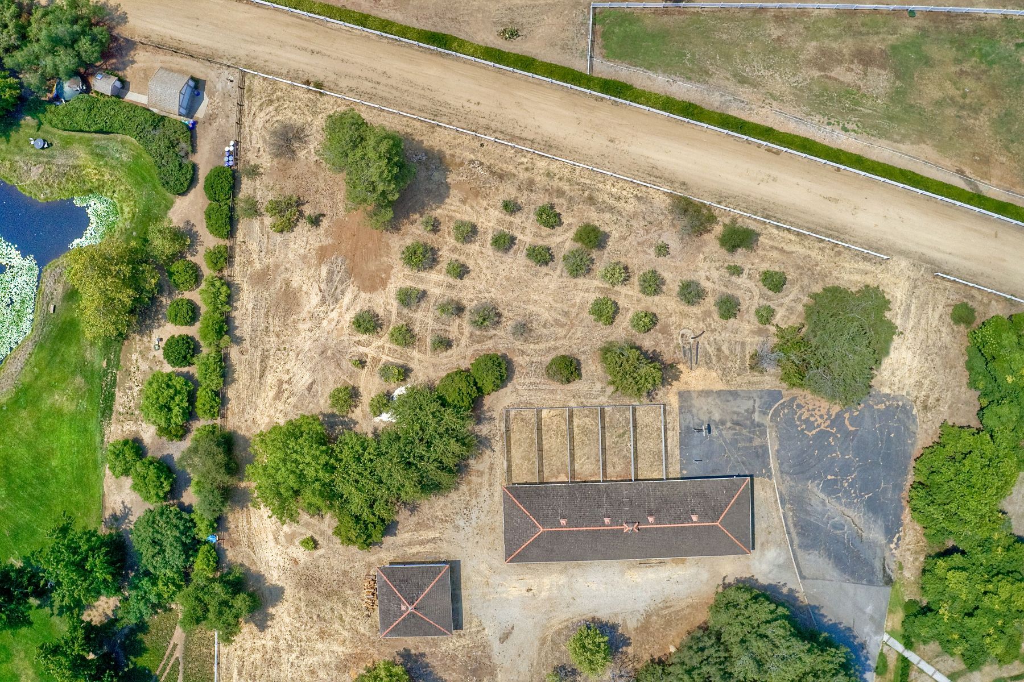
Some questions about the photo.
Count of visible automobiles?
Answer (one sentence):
The count of automobiles is 0.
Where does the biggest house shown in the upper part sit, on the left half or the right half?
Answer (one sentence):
The biggest house shown in the upper part is on the left side of the image.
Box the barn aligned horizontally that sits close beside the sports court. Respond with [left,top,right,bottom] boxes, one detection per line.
[502,476,753,564]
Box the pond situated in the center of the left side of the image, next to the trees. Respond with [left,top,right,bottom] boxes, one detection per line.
[0,181,115,366]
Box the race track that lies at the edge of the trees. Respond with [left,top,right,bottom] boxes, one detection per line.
[36,0,1024,303]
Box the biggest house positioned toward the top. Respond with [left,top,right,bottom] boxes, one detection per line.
[147,65,193,118]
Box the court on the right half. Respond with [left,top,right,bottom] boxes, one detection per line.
[679,390,783,479]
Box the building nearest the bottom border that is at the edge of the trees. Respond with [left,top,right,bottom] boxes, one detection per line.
[376,562,453,638]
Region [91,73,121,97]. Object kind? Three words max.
shed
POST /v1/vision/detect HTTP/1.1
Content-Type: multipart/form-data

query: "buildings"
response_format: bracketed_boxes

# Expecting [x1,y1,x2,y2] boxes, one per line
[376,562,453,638]
[502,476,753,564]
[91,73,121,97]
[147,65,193,118]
